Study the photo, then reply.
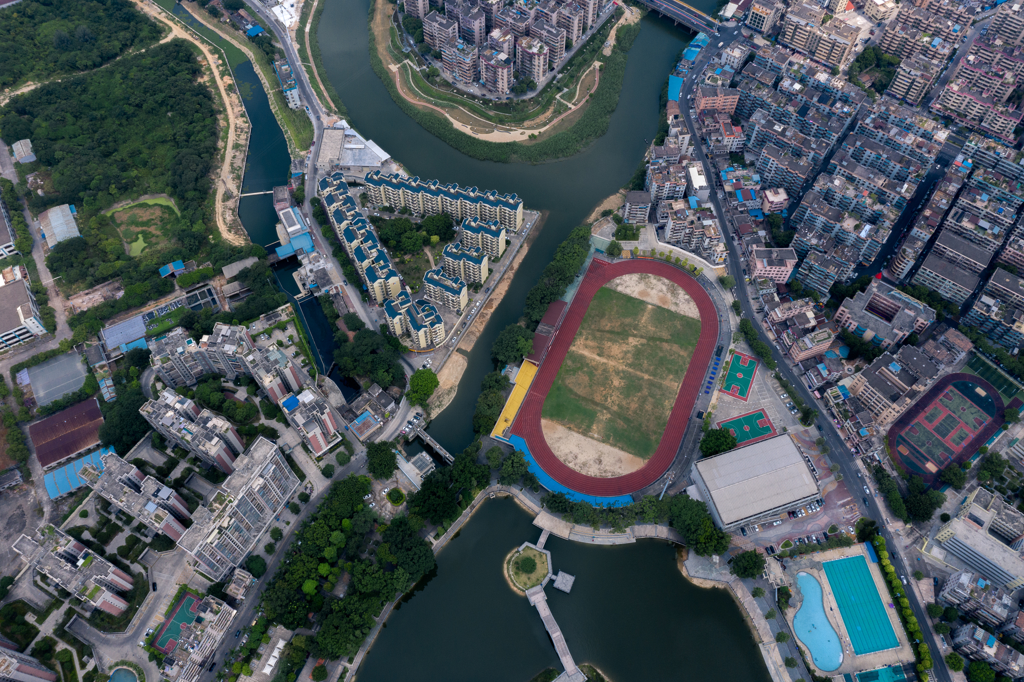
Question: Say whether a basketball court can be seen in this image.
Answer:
Yes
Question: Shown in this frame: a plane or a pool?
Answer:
pool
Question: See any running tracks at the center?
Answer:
Yes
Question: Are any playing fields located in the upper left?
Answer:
No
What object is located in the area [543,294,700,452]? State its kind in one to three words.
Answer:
sports field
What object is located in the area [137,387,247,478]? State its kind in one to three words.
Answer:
building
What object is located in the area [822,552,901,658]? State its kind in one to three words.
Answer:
swimming pool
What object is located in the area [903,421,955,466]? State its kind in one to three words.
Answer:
basketball court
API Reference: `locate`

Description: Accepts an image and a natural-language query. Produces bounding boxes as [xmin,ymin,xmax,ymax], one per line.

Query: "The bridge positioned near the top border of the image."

[632,0,731,43]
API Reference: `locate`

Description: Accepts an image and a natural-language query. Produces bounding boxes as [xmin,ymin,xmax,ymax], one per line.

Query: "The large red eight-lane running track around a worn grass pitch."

[506,253,719,497]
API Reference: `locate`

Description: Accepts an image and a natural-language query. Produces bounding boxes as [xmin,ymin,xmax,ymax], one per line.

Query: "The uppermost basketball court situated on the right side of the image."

[718,350,761,401]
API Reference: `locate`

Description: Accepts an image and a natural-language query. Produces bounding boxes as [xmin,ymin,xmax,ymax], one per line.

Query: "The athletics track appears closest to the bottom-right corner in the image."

[886,372,1023,481]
